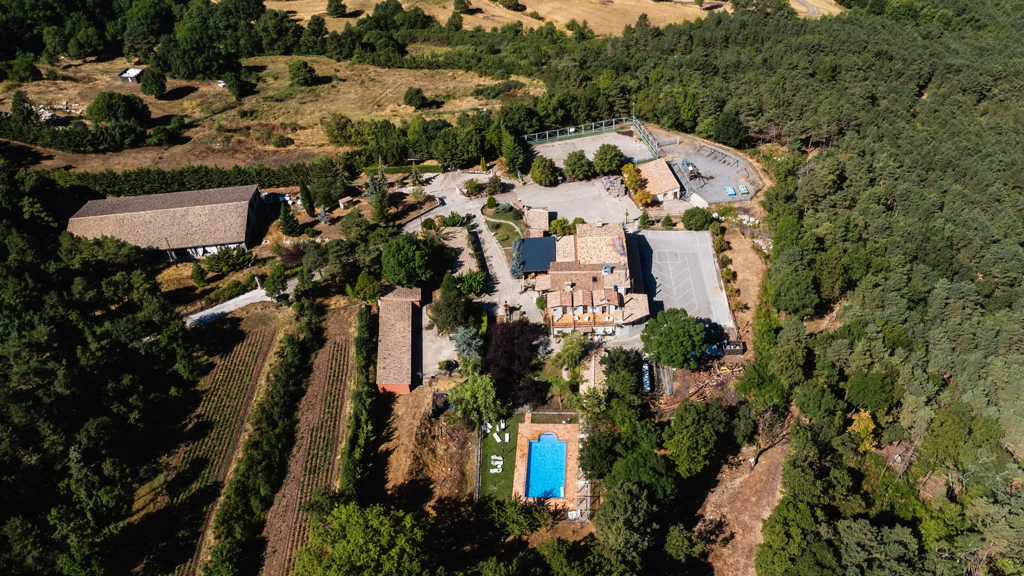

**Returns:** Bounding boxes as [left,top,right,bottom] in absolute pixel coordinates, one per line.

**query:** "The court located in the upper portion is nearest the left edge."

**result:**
[526,125,656,186]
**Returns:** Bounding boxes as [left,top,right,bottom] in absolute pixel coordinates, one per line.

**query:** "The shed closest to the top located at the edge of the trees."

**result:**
[113,67,144,84]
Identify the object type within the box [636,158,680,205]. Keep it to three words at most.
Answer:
building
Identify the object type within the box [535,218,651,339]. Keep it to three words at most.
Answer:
house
